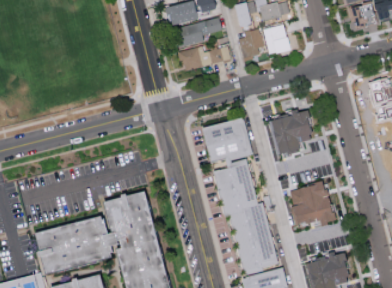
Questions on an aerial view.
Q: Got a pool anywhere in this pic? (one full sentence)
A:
No, I can see no pool in this picture.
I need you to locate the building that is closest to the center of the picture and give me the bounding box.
[202,118,252,164]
